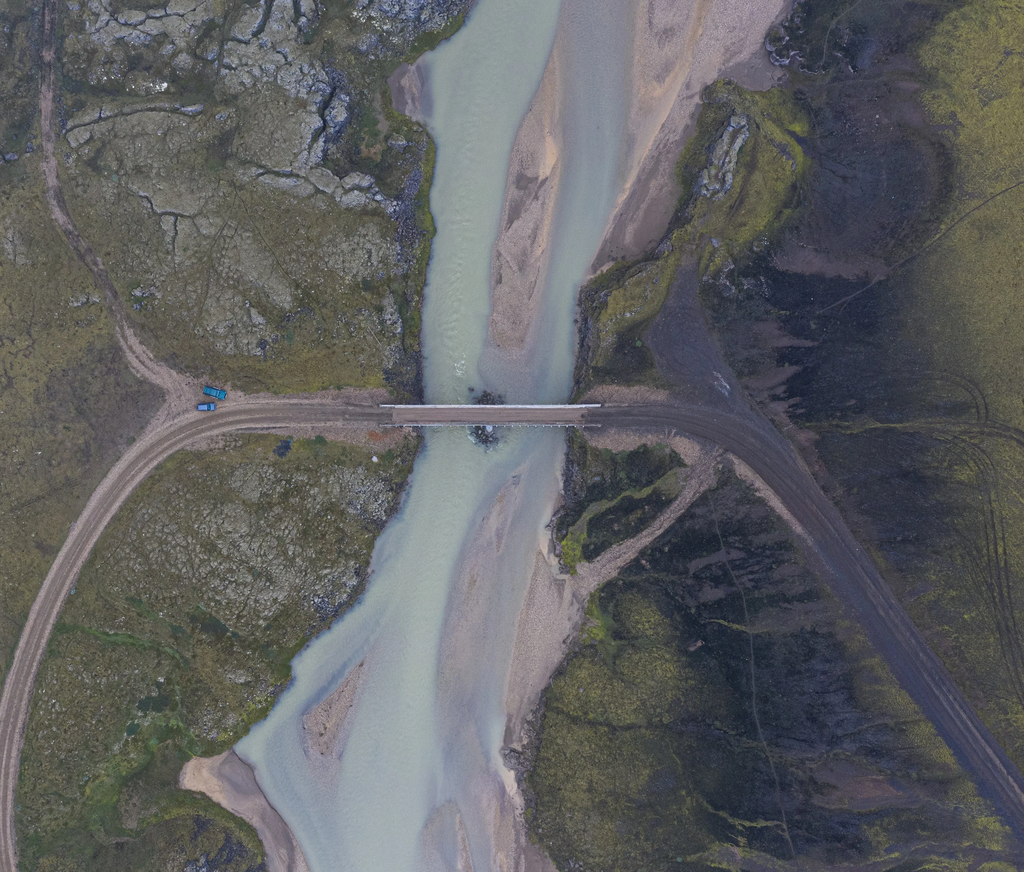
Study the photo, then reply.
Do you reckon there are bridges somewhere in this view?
Yes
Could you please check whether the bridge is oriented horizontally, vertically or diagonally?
horizontally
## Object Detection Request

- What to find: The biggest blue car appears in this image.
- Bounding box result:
[201,386,228,400]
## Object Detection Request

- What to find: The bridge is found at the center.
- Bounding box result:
[378,403,602,436]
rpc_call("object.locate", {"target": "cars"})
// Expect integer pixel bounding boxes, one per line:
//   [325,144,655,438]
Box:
[201,386,228,400]
[196,403,217,412]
